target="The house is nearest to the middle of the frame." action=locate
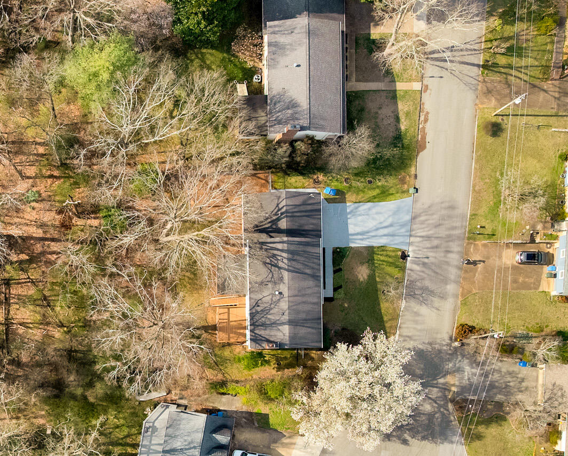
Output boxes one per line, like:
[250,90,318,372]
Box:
[208,192,333,350]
